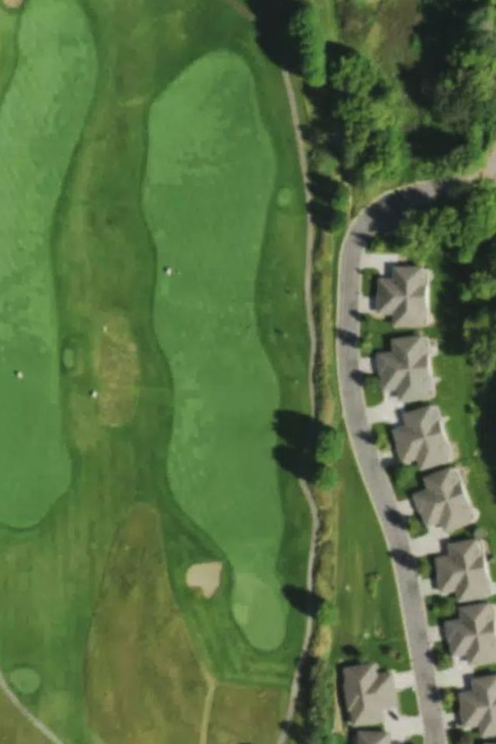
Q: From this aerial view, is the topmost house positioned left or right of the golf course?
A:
right of it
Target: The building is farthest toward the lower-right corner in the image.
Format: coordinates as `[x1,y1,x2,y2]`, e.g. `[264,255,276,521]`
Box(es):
[459,676,496,739]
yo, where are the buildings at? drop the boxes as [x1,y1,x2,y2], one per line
[389,403,451,470]
[375,266,430,326]
[337,664,394,728]
[354,730,405,744]
[377,336,434,400]
[411,468,474,535]
[433,537,493,602]
[459,676,496,739]
[443,603,496,668]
